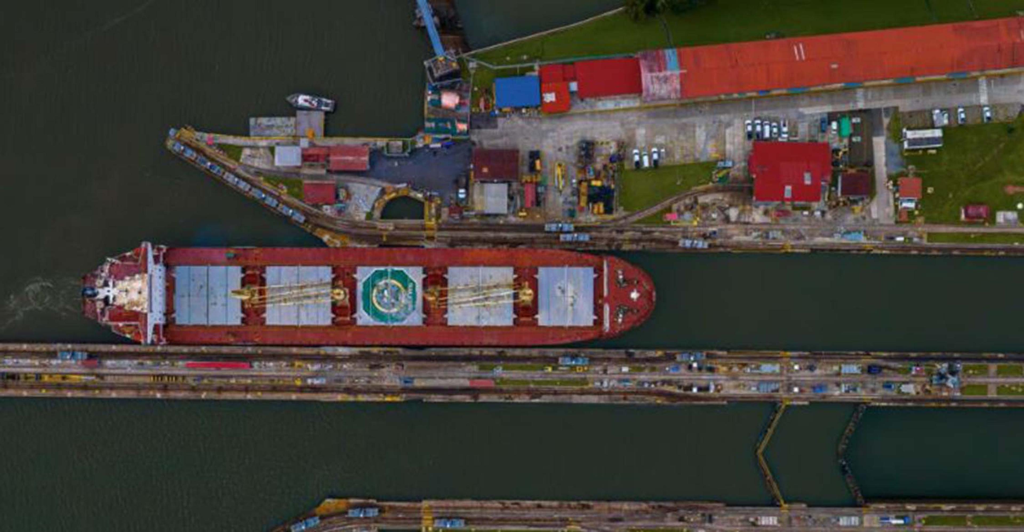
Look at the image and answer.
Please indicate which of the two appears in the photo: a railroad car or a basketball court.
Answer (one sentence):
Of the two, only a railroad car appears.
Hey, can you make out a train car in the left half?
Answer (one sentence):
Yes, the scene does show a train car in the left half.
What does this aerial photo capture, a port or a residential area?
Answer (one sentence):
It's a port.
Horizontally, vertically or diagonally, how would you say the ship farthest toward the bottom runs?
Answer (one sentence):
I'd say the ship farthest toward the bottom is aligned horizontally in the picture.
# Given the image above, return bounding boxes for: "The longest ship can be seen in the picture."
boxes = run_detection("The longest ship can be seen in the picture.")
[82,242,655,346]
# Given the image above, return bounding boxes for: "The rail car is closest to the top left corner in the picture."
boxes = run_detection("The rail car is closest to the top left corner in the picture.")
[168,137,199,158]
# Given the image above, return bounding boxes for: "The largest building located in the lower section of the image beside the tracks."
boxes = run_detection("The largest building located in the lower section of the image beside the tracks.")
[937,362,967,391]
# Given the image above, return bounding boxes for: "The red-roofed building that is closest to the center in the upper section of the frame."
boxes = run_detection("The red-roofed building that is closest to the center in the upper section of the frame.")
[475,149,518,181]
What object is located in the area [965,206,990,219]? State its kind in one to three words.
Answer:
shed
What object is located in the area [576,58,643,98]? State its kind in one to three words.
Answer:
building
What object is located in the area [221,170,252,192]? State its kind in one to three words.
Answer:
rail car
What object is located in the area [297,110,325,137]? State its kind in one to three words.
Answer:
pier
